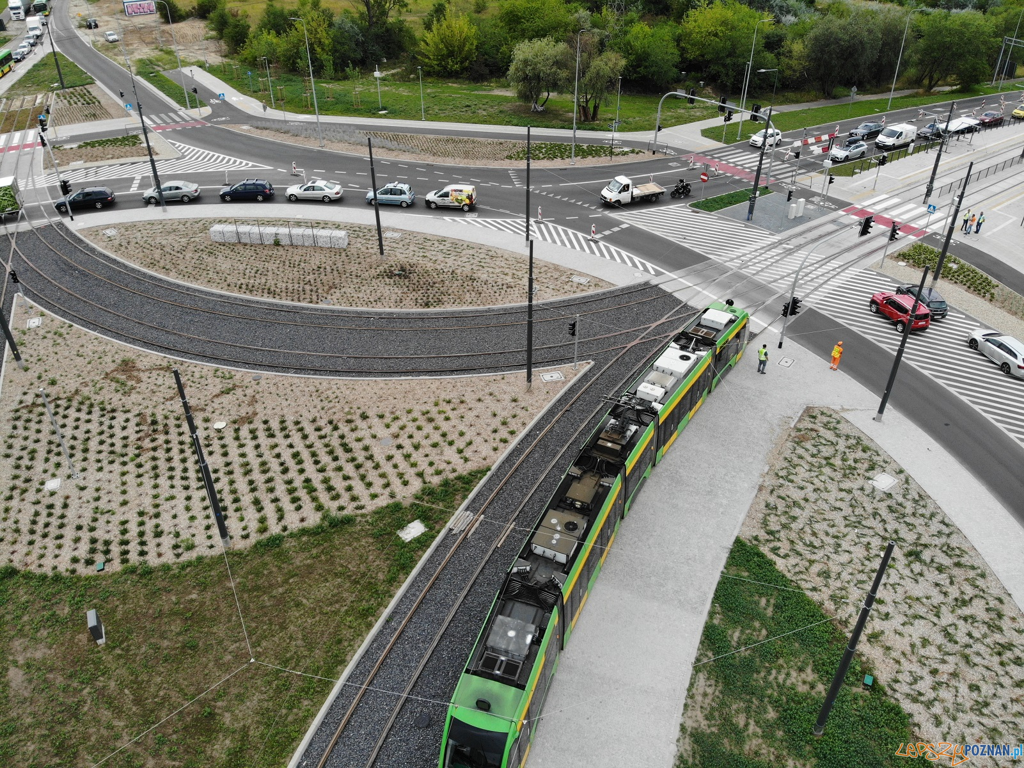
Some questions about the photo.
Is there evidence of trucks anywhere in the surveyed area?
Yes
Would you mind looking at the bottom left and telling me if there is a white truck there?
No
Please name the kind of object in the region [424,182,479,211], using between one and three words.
van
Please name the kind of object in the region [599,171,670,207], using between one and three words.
truck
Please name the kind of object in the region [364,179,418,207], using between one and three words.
car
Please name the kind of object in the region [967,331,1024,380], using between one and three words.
car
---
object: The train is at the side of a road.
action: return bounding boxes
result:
[444,289,757,768]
